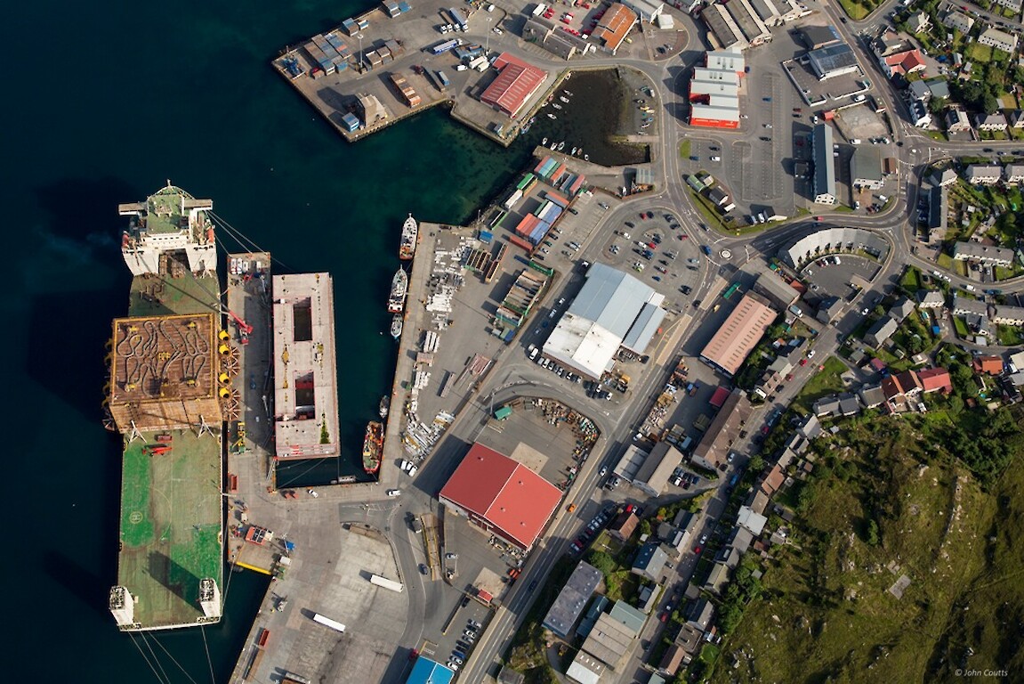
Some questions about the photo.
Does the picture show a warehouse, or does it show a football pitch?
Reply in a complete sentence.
The one in the frame is a warehouse.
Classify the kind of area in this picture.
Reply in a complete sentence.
This image shows a port.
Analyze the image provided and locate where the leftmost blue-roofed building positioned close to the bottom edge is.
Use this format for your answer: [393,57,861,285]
[403,654,456,684]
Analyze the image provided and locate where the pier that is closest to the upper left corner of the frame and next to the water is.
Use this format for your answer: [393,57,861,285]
[272,0,449,145]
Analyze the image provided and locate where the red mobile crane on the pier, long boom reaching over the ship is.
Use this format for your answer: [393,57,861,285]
[173,256,254,349]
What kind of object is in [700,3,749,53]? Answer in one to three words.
building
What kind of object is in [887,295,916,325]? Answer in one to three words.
house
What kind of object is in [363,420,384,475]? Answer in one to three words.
boat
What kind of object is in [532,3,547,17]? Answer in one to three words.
vehicle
